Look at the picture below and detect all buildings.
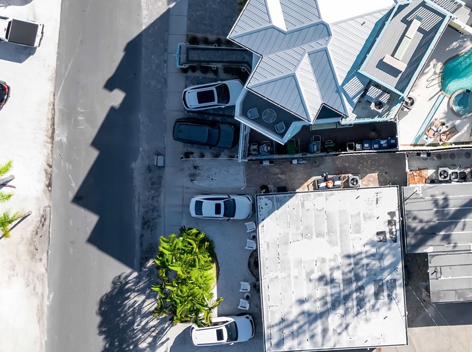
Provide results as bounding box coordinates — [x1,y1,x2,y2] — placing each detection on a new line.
[227,0,472,145]
[257,185,407,352]
[404,181,472,303]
